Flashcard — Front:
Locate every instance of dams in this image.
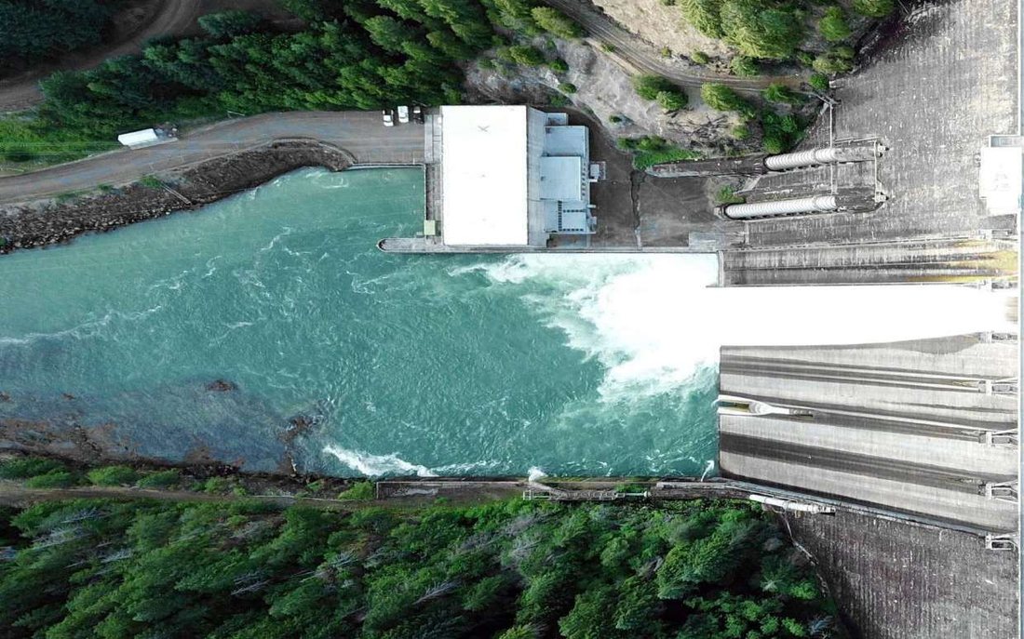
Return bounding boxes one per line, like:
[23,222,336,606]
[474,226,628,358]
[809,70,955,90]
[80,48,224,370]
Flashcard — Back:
[704,0,1024,639]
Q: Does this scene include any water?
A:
Yes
